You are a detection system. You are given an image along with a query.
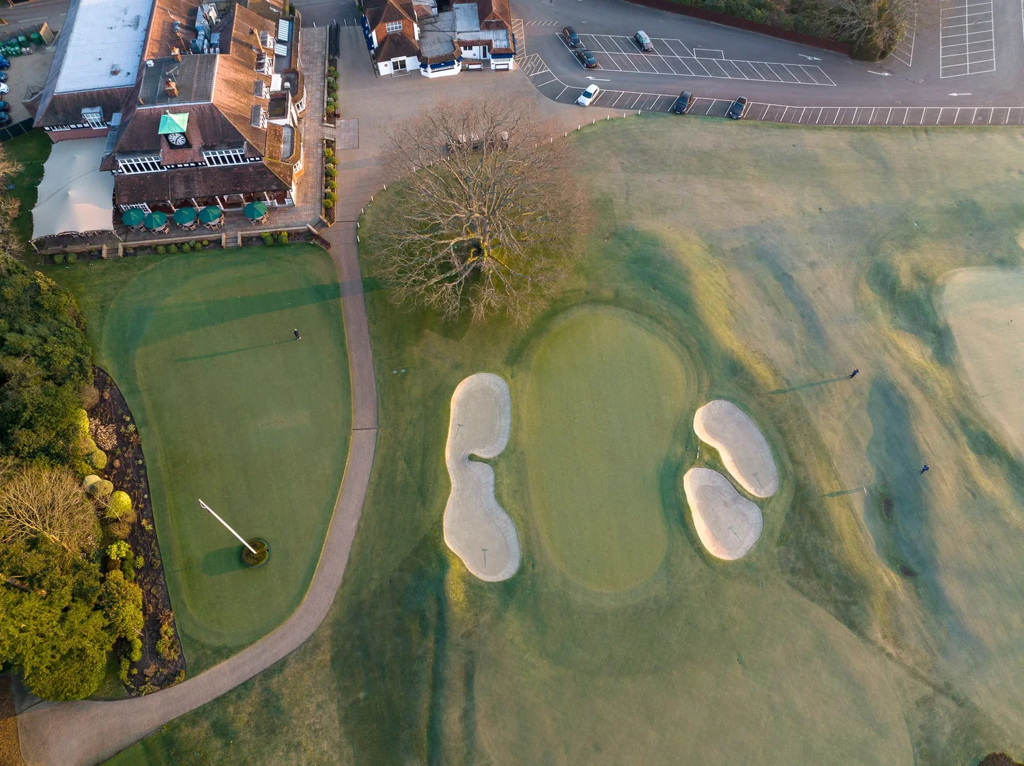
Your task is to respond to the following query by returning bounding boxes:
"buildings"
[369,0,516,78]
[22,0,307,214]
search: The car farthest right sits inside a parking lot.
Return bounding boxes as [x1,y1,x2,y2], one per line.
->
[730,94,750,116]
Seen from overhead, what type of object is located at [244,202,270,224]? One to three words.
umbrella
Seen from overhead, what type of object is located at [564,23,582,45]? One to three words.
car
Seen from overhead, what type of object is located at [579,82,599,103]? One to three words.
car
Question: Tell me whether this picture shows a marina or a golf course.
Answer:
golf course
